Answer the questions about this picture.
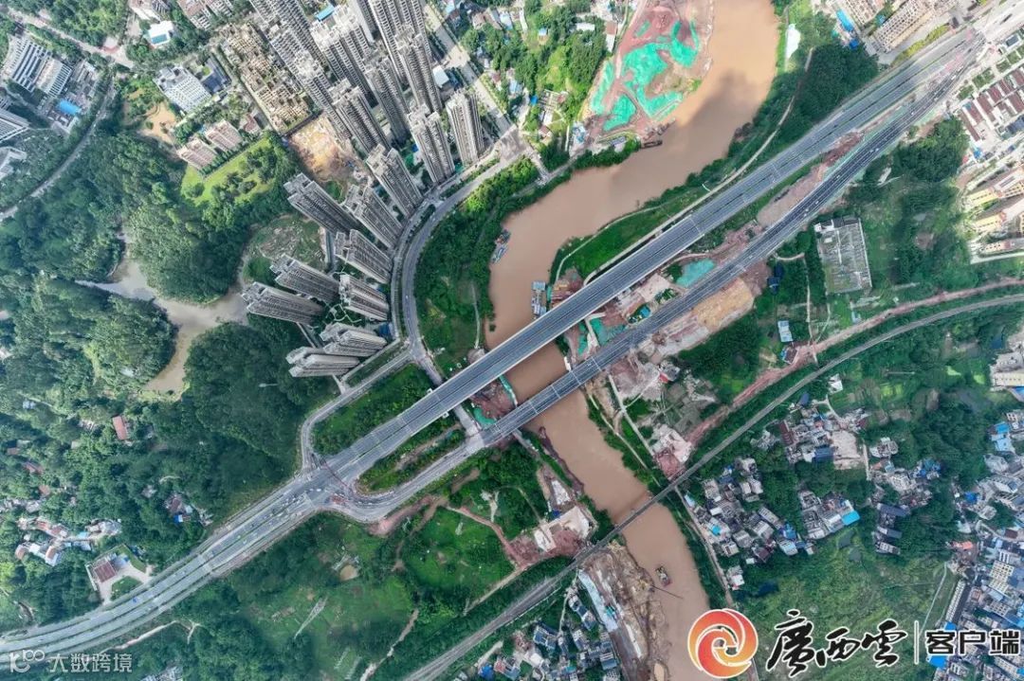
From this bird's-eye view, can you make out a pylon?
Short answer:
Yes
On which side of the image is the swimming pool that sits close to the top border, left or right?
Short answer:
left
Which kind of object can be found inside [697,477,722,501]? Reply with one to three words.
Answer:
house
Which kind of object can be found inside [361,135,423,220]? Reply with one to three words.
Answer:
building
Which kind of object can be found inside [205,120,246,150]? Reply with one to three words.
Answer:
building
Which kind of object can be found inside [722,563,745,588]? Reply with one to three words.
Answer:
house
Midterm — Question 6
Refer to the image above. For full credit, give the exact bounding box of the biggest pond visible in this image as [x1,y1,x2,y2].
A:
[76,244,251,390]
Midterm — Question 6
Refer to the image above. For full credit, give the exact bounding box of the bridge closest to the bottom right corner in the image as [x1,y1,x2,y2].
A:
[595,485,667,544]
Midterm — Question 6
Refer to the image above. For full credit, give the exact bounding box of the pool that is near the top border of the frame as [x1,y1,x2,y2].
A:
[148,20,170,44]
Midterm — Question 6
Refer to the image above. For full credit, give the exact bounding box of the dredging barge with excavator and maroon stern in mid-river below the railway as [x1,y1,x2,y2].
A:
[654,561,674,587]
